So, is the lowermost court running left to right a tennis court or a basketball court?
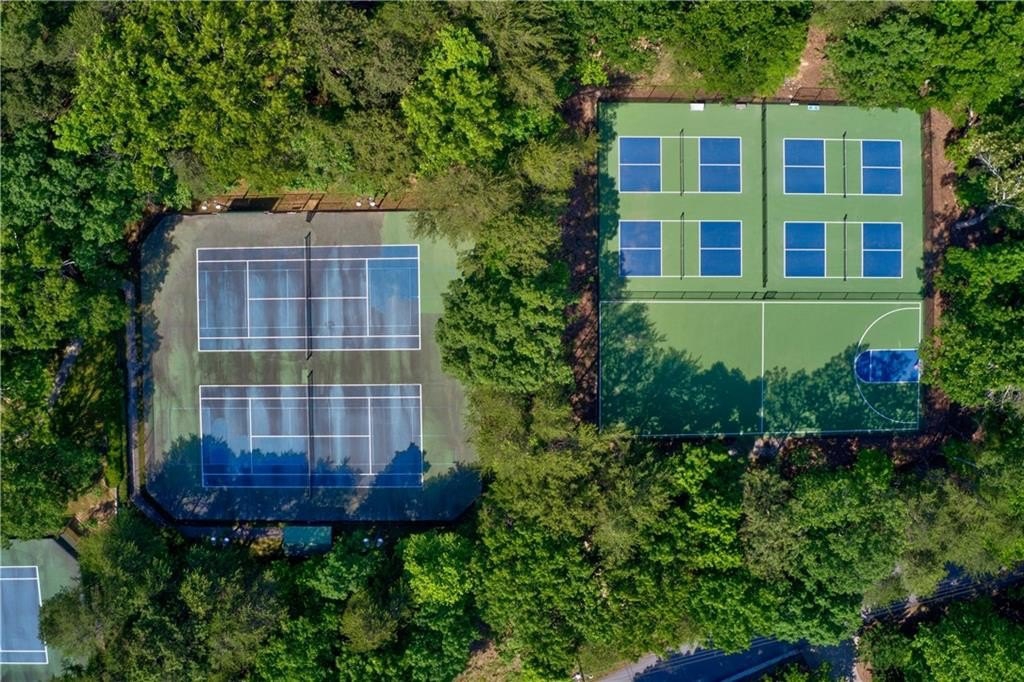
tennis court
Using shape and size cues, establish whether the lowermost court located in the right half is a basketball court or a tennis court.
basketball court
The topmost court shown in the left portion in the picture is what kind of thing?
tennis court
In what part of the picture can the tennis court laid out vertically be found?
bottom left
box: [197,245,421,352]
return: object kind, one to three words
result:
tennis court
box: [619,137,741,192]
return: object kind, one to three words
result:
sports court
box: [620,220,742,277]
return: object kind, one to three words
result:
sports court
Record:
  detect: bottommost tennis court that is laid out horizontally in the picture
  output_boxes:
[200,384,423,488]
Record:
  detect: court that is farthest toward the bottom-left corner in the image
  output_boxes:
[0,566,47,664]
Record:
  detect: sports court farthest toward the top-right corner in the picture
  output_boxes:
[784,138,901,195]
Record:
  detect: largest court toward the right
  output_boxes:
[598,299,921,436]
